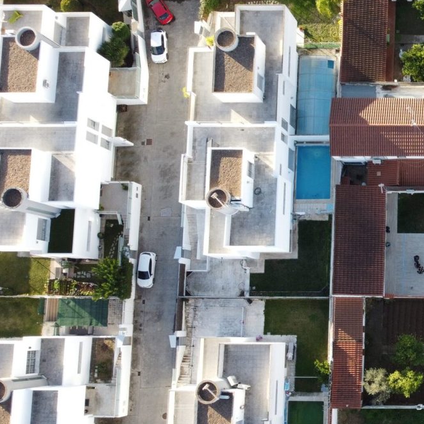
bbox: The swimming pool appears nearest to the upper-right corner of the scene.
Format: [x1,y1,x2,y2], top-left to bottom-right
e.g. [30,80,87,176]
[297,63,335,134]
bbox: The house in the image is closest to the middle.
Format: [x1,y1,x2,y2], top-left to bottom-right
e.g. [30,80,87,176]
[177,127,296,259]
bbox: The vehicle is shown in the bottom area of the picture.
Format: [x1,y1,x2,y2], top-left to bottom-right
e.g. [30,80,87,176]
[134,251,159,289]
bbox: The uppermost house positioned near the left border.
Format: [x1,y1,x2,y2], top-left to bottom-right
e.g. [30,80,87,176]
[0,4,136,146]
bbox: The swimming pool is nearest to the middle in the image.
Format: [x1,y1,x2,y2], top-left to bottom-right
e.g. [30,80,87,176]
[294,144,333,201]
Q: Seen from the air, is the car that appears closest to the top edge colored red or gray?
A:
red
